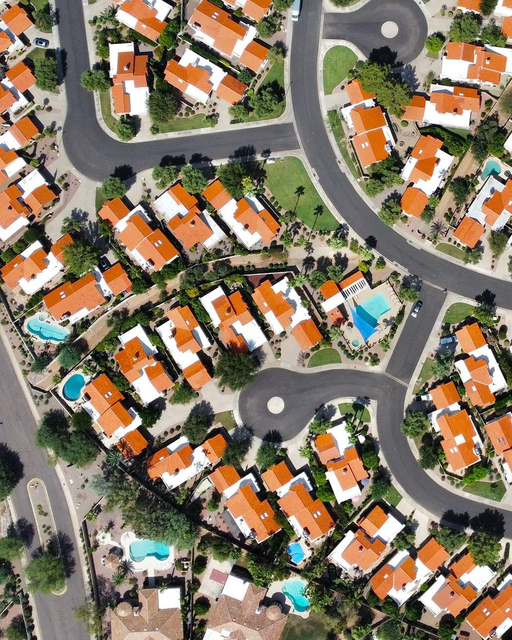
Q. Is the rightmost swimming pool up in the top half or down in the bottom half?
top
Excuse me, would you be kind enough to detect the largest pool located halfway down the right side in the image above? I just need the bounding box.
[353,292,392,329]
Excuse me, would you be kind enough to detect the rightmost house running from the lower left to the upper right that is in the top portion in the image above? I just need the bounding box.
[455,175,512,246]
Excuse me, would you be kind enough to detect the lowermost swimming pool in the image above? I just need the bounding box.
[281,580,311,613]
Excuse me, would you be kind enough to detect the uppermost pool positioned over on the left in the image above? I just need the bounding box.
[27,314,70,343]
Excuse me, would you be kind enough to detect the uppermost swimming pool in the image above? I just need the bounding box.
[481,159,503,181]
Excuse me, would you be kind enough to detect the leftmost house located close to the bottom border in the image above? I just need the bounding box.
[111,584,187,640]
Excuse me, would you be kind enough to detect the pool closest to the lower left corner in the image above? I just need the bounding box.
[129,539,171,565]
